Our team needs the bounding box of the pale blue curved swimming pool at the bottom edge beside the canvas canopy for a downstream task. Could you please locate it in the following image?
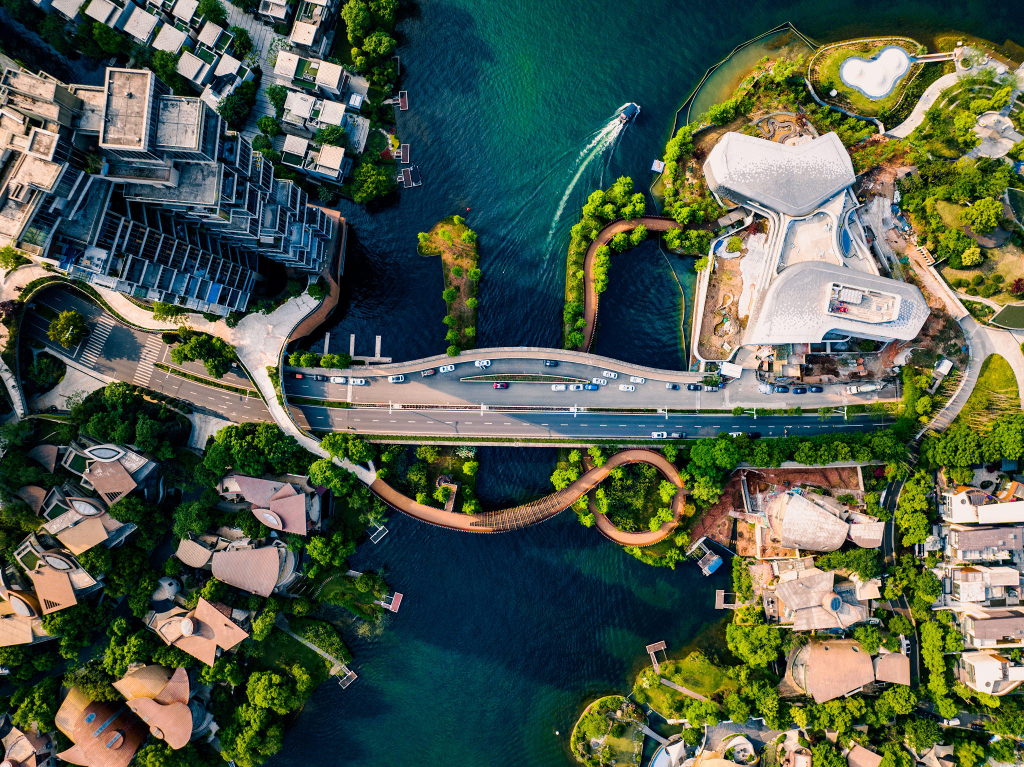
[643,734,674,767]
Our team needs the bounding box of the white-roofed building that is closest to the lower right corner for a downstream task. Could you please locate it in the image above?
[954,647,1024,696]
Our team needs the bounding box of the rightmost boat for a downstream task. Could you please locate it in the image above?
[703,558,721,575]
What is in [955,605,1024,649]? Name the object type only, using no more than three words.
house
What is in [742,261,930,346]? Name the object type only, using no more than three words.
building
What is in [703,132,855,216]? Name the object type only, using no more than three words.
building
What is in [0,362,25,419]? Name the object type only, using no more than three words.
bridge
